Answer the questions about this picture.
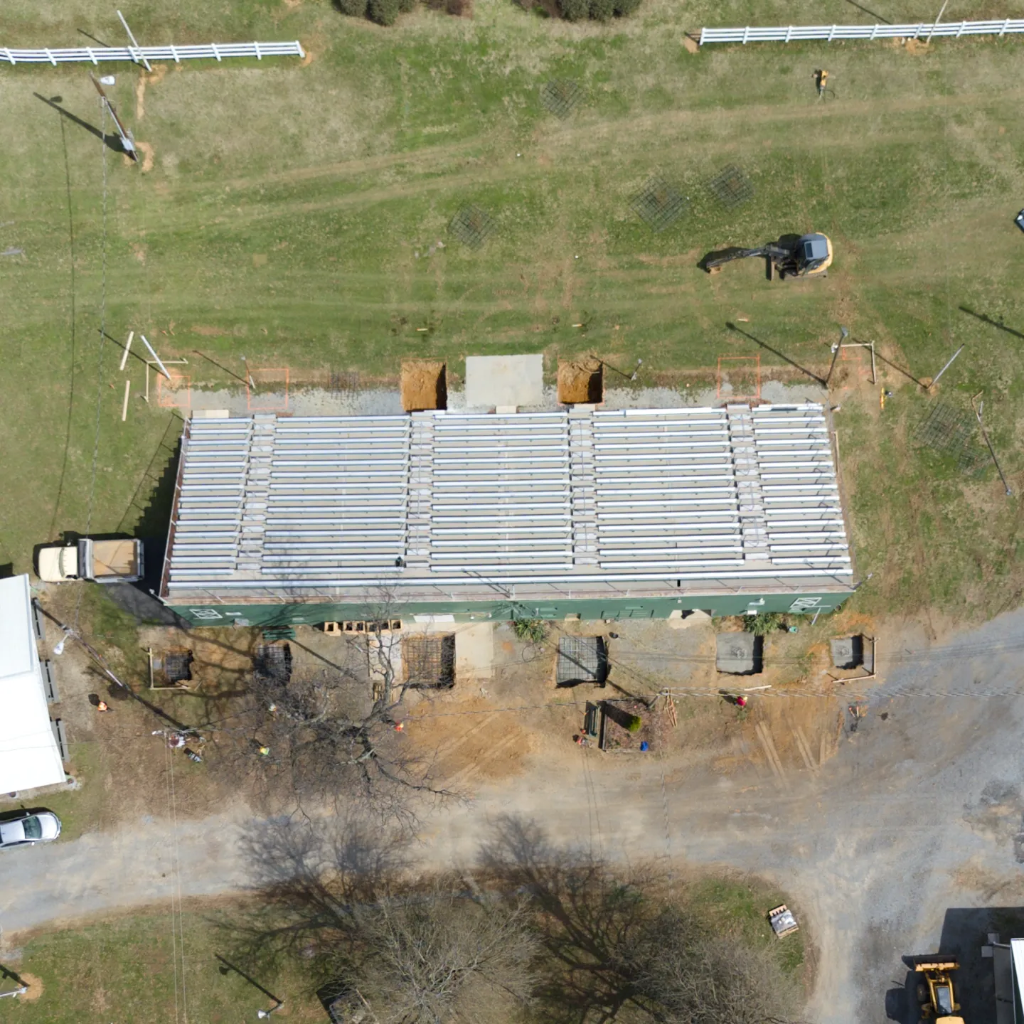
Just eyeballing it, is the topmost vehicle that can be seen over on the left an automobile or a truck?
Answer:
truck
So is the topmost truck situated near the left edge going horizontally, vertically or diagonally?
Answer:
horizontally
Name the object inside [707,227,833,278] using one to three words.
work vehicle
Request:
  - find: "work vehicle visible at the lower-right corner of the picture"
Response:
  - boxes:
[918,956,967,1024]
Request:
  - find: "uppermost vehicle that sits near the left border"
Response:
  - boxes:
[39,535,147,585]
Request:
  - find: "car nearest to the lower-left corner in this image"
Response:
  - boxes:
[0,809,63,852]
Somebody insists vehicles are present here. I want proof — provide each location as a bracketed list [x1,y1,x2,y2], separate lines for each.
[39,535,147,585]
[0,809,63,852]
[707,227,833,278]
[918,956,967,1024]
